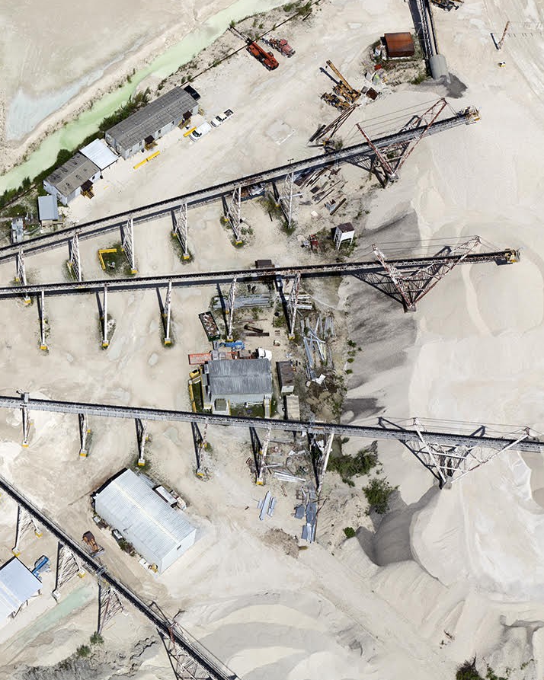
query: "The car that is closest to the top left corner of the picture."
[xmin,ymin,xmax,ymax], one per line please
[183,83,202,98]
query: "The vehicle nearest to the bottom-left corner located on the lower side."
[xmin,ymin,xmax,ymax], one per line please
[31,552,51,577]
